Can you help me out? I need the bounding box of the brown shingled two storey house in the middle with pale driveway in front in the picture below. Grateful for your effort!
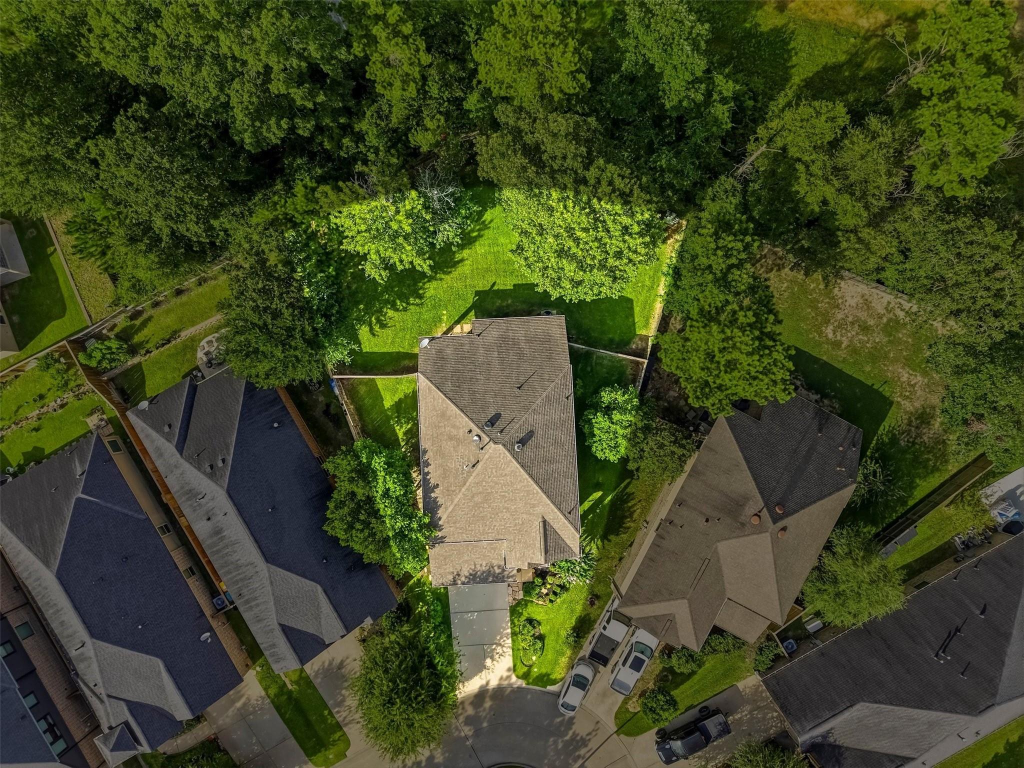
[416,314,582,588]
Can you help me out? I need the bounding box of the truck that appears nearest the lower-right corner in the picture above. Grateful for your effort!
[658,701,731,757]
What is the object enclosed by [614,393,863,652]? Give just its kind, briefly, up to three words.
house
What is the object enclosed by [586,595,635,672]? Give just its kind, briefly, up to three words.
truck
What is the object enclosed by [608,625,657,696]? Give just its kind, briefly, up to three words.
car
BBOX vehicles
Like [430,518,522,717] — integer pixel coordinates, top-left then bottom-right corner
[555,655,595,718]
[608,625,657,696]
[586,595,635,672]
[658,701,731,757]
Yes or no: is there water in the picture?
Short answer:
No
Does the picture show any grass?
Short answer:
Yes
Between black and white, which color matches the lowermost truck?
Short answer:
black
